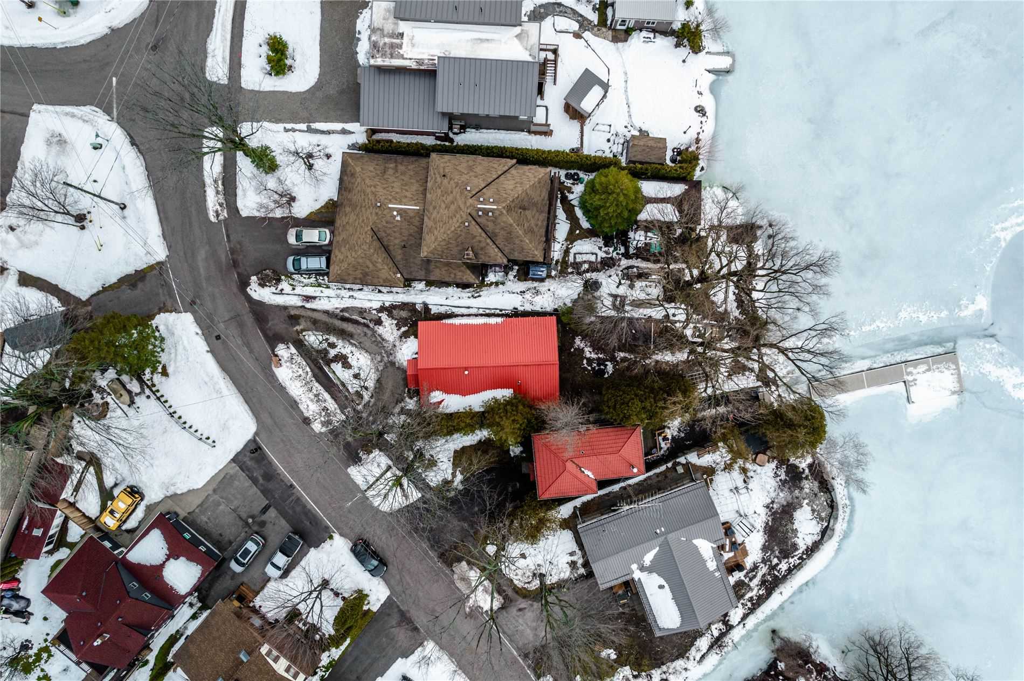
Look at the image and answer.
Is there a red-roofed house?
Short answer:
Yes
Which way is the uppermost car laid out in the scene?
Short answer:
horizontally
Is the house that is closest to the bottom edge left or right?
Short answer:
left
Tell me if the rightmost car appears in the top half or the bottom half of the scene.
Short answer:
bottom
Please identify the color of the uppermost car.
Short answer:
white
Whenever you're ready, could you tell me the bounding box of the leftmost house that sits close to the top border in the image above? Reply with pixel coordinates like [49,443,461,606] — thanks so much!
[360,0,541,135]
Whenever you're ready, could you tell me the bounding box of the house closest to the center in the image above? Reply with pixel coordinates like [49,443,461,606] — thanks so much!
[406,316,559,412]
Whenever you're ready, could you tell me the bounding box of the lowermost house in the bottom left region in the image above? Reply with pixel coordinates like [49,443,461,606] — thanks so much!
[158,600,323,681]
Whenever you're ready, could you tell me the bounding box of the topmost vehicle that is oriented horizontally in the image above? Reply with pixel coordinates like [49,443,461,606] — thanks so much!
[285,224,333,246]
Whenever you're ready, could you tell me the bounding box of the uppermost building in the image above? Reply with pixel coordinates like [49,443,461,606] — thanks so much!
[611,0,676,32]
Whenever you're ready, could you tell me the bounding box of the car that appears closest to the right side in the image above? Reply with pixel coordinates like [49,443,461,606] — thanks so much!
[348,538,386,580]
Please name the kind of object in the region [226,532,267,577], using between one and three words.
car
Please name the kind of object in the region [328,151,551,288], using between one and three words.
house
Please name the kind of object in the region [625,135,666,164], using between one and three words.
shed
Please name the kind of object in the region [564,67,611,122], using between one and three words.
building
